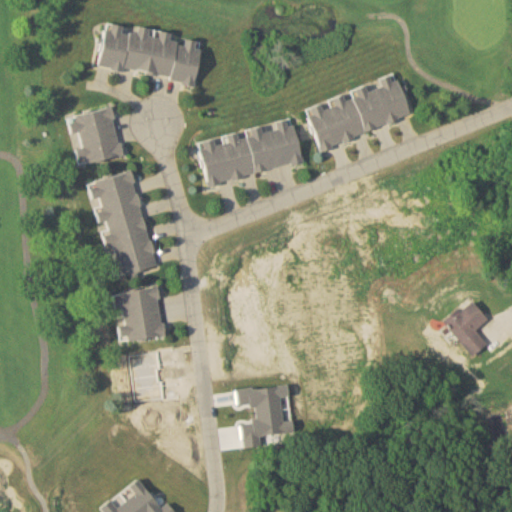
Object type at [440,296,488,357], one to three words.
house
